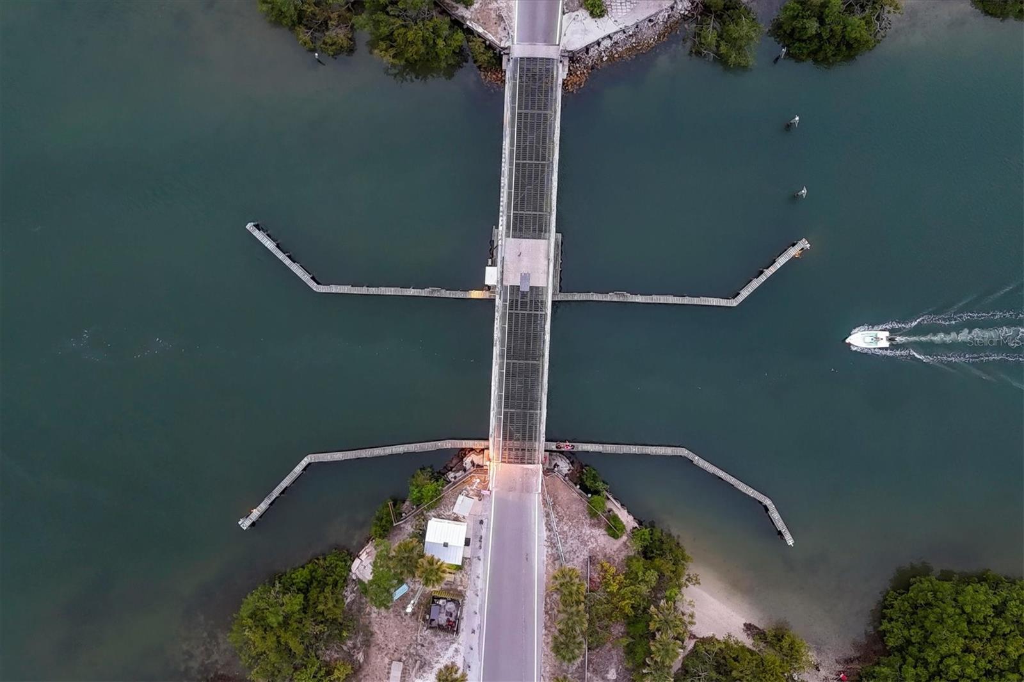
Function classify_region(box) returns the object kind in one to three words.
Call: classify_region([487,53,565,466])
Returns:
bridge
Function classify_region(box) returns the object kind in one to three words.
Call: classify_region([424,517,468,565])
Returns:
house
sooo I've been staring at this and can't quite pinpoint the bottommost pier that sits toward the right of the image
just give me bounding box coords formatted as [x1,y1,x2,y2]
[547,441,794,546]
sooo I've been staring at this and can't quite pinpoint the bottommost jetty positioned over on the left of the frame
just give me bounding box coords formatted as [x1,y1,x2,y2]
[239,438,488,527]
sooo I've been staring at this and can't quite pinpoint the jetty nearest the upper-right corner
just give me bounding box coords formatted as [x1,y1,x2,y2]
[554,240,808,306]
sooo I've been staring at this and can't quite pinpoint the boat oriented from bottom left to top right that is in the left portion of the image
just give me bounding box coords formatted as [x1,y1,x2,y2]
[393,584,411,601]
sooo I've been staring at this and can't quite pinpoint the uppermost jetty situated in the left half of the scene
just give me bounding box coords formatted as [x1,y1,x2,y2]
[248,223,494,300]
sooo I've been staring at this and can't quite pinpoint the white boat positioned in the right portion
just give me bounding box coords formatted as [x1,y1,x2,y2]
[846,332,895,347]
